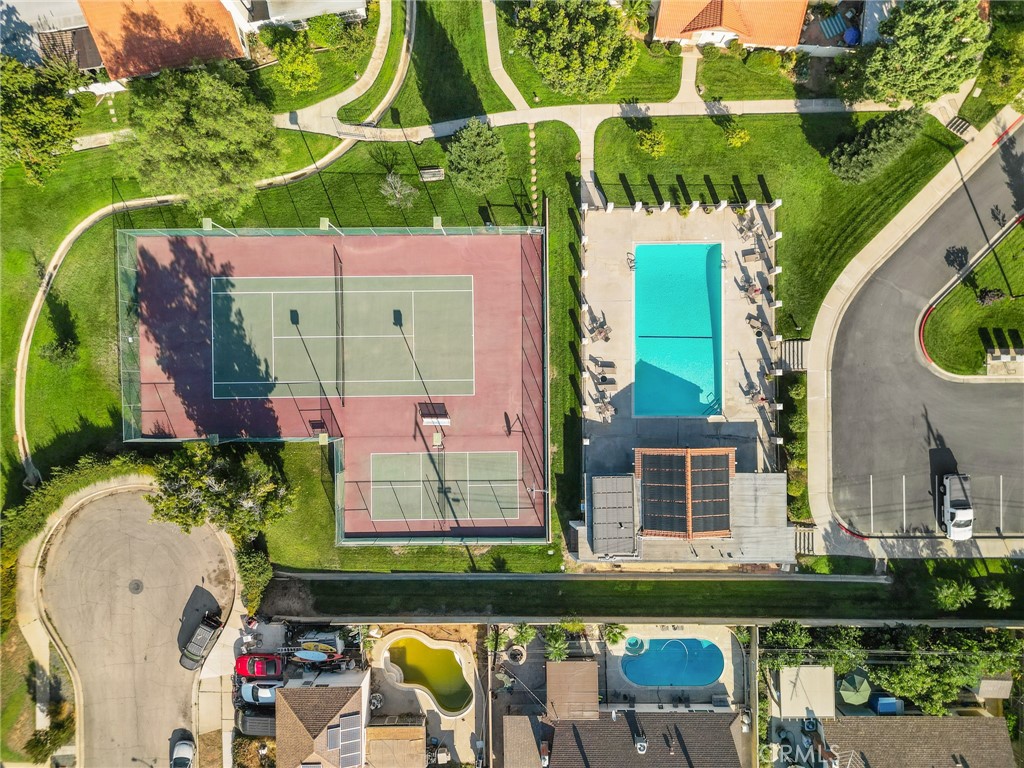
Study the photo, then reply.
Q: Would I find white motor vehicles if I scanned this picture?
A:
Yes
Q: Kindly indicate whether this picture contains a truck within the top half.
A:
No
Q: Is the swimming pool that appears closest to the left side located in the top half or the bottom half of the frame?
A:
bottom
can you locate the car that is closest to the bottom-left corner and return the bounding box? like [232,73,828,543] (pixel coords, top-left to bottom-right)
[169,736,196,768]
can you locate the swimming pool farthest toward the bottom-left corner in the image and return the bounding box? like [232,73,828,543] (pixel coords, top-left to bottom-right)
[383,633,476,715]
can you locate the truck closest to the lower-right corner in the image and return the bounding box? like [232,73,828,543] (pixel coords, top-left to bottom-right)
[940,475,973,538]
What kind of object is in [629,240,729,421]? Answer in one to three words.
swimming pool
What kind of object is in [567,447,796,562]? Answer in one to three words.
building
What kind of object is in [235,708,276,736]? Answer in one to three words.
car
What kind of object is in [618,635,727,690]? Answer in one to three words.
swimming pool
